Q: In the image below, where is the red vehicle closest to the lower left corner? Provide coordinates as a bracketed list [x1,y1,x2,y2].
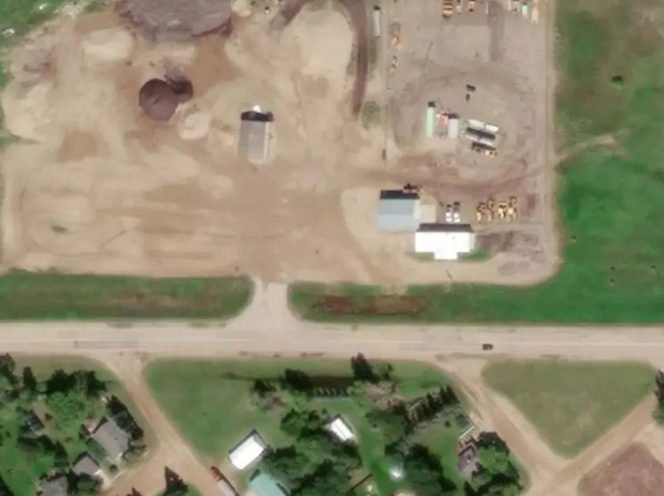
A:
[212,467,225,483]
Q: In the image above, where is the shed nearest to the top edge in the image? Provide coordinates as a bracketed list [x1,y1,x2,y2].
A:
[244,119,272,162]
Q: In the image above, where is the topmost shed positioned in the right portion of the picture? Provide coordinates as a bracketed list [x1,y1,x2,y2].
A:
[377,200,421,231]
